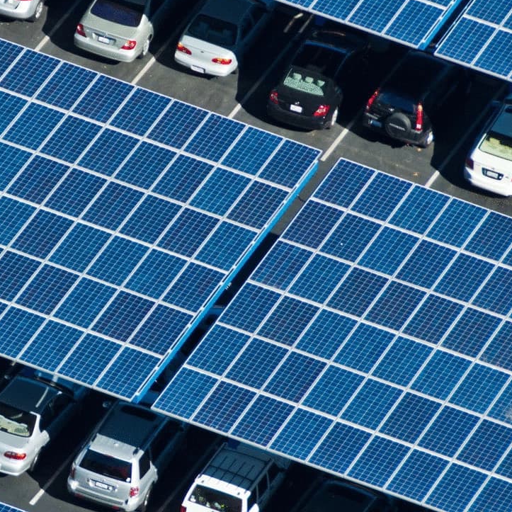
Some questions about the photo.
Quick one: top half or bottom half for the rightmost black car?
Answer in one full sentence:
You can find the rightmost black car in the top half.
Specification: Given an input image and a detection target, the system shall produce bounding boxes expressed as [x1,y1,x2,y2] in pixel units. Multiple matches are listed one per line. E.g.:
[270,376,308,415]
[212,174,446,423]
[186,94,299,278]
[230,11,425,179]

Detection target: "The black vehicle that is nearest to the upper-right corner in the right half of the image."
[362,41,476,147]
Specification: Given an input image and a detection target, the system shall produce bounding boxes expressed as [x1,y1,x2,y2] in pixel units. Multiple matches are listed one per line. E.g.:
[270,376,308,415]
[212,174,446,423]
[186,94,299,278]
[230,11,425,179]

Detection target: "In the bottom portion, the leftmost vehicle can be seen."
[0,363,87,479]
